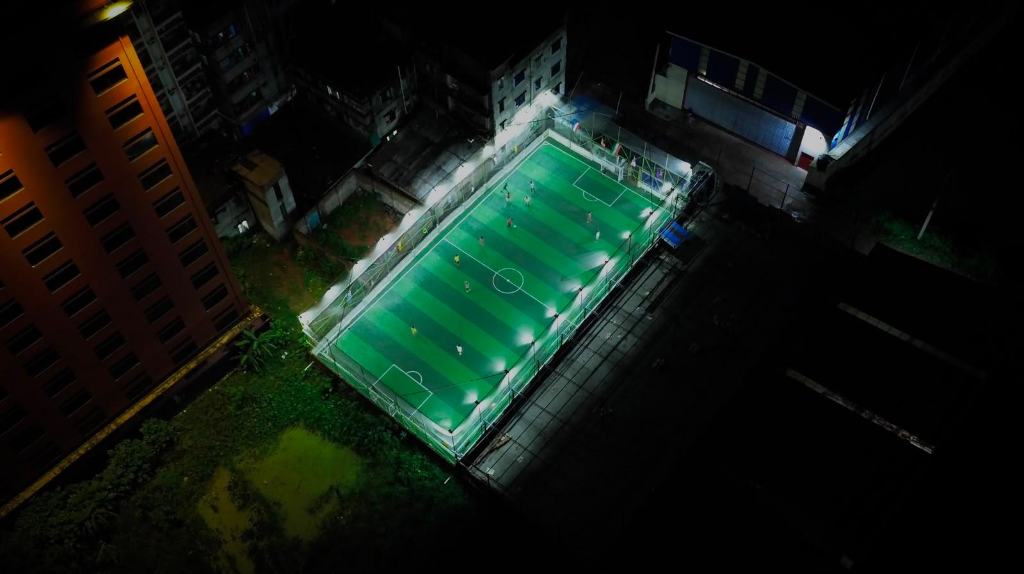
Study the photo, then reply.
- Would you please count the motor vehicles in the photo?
0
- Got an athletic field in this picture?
Yes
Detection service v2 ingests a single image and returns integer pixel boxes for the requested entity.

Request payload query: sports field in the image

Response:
[311,133,684,465]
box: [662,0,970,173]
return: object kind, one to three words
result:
warehouse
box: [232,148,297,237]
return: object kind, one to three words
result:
shed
